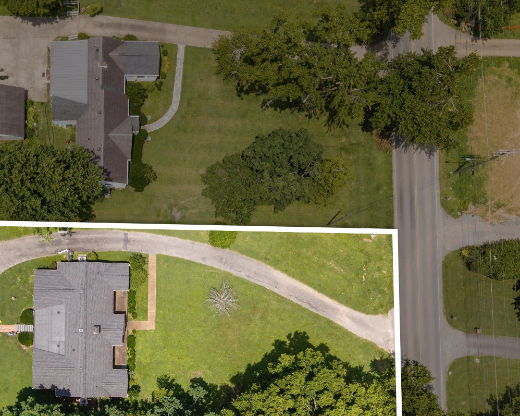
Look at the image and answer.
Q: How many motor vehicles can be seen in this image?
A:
0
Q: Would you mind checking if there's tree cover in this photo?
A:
Yes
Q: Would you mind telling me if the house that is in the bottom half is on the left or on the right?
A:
left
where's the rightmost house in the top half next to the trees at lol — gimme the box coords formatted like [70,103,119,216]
[50,31,160,187]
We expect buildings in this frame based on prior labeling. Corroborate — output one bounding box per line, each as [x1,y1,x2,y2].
[0,83,25,142]
[32,262,133,398]
[50,31,160,187]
